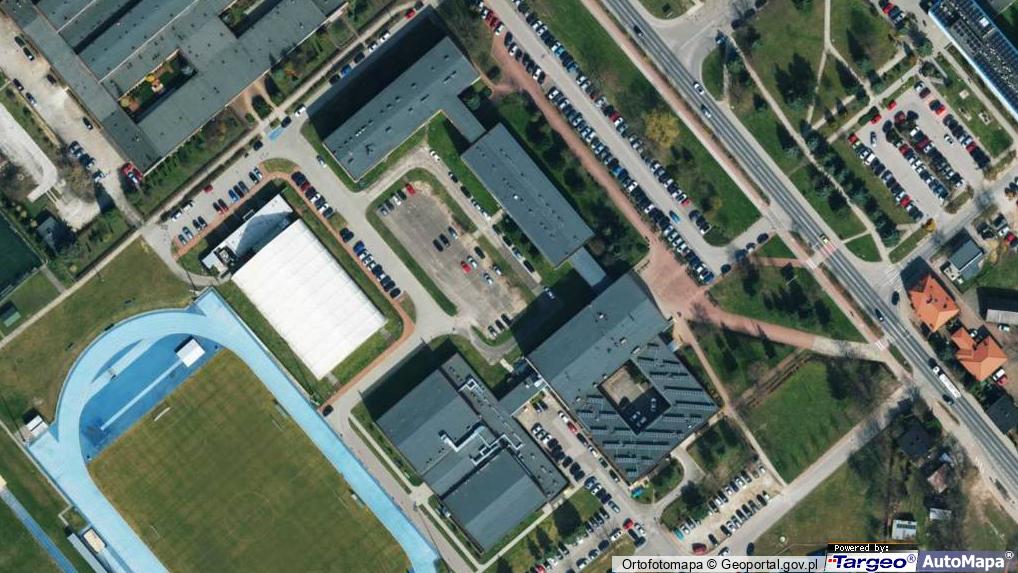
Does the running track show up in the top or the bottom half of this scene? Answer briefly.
bottom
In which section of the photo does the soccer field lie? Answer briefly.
bottom left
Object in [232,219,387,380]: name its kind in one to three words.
building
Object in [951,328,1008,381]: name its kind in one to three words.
house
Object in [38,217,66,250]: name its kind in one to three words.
house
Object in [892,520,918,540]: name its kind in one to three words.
building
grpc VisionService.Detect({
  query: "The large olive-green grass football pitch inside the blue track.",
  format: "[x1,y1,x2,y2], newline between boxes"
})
[85,347,412,573]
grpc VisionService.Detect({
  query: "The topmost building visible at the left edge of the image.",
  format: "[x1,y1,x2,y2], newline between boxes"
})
[0,0,352,173]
